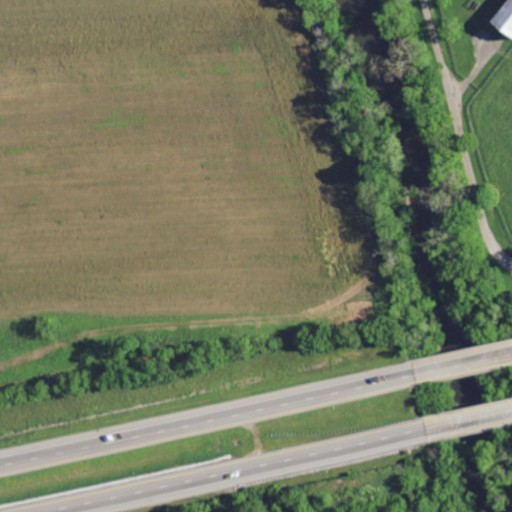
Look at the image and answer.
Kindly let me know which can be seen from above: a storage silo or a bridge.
bridge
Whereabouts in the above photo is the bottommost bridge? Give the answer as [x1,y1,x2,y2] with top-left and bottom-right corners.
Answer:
[421,397,512,447]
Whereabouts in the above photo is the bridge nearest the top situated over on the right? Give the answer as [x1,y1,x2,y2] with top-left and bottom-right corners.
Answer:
[409,339,512,390]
